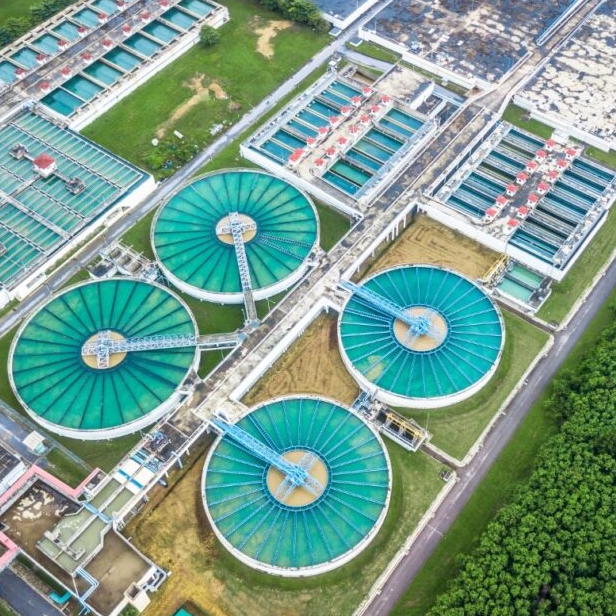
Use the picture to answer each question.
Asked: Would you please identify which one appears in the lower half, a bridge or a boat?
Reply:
bridge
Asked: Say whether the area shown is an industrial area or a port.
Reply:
industrial area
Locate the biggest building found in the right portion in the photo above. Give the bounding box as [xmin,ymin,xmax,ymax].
[373,65,434,109]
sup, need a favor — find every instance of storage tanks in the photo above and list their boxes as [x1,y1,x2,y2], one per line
[337,261,506,408]
[150,167,320,324]
[7,274,242,439]
[0,106,156,316]
[201,394,392,575]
